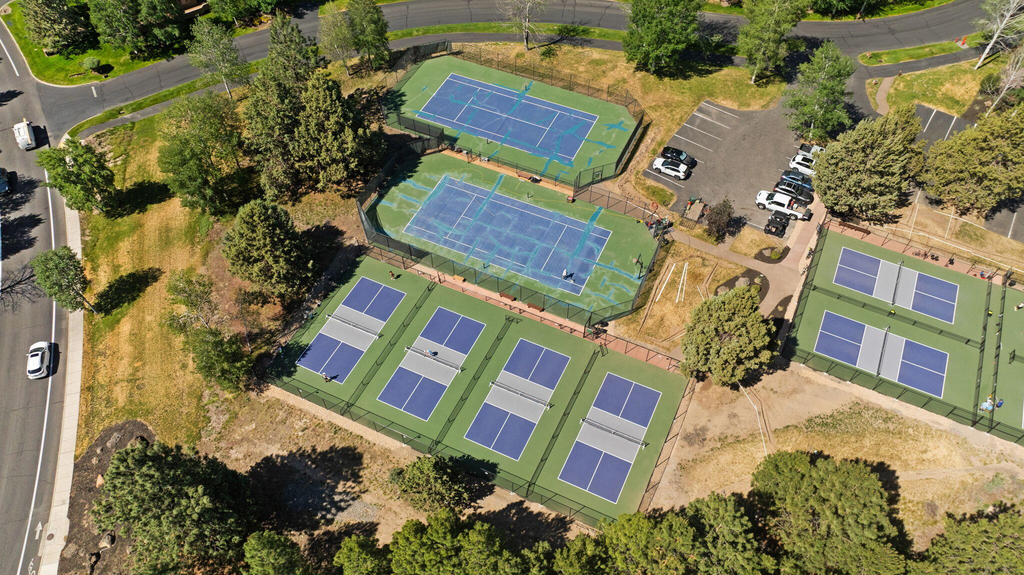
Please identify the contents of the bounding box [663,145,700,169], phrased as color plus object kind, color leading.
black car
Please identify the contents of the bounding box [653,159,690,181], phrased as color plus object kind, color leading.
white car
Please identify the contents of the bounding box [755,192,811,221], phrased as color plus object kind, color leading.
white truck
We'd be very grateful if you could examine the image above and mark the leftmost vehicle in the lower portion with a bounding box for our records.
[24,340,50,379]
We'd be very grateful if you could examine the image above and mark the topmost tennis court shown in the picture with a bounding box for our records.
[379,55,637,191]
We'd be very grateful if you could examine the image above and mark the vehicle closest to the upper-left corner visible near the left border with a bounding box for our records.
[13,122,36,149]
